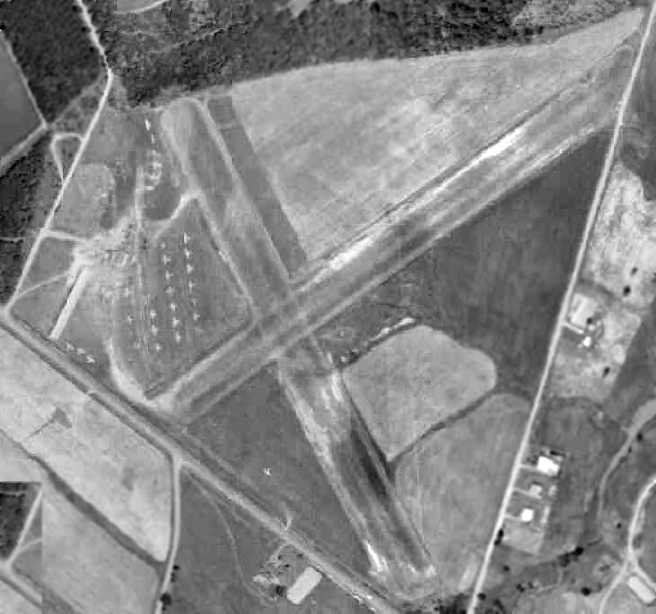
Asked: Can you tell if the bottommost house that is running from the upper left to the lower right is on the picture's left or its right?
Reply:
right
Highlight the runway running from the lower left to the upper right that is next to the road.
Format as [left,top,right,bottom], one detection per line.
[141,34,639,427]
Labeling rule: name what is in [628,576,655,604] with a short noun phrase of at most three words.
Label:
house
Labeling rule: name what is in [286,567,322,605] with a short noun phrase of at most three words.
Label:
house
